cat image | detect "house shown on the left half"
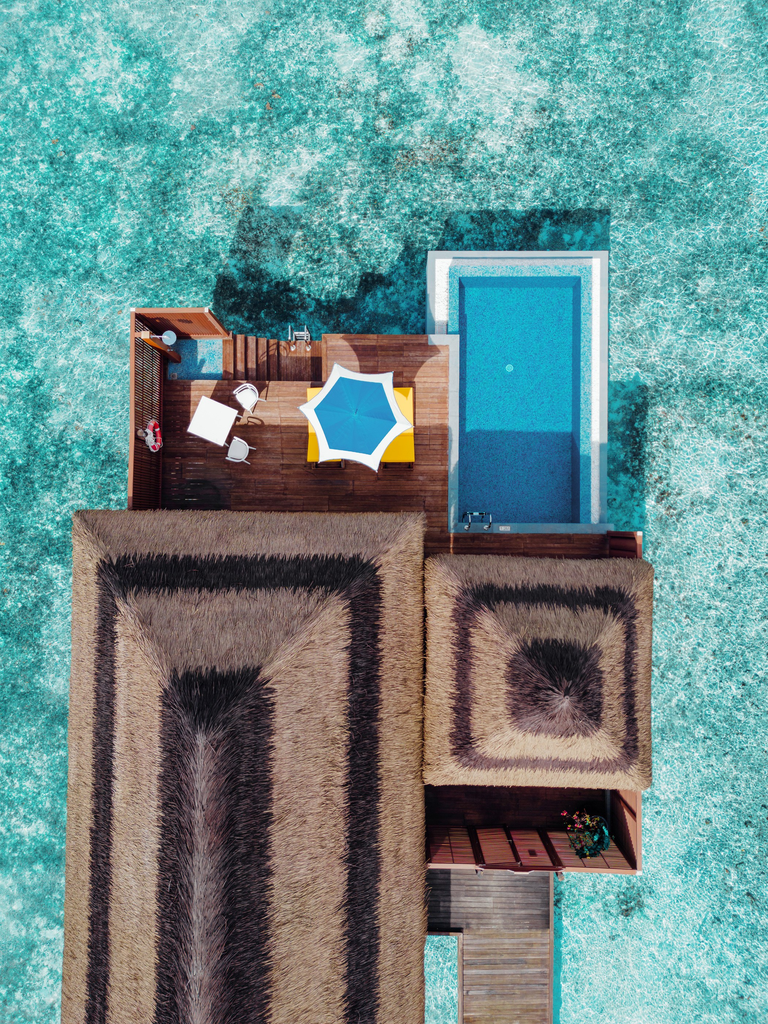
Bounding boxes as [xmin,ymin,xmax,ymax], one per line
[59,508,426,1024]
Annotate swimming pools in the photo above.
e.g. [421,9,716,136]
[425,251,614,532]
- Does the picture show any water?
Yes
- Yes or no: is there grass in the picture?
No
